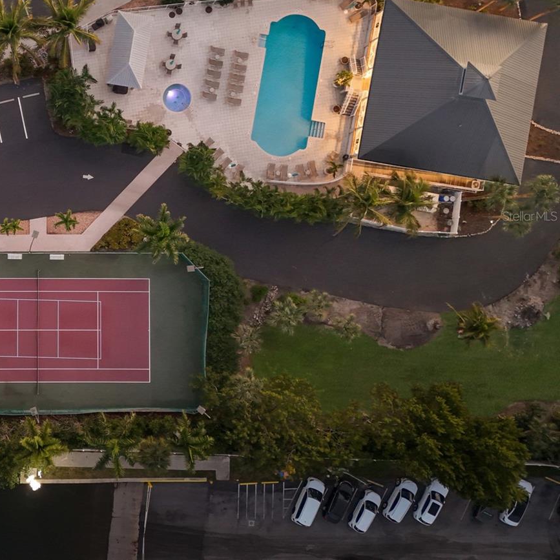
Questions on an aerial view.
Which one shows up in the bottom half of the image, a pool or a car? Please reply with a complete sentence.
The feature located in the bottom half of the image is a car.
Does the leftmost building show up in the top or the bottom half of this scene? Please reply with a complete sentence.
You can find the leftmost building in the top half.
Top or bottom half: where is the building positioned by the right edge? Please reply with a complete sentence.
The building positioned by the right edge is in the top half of the image.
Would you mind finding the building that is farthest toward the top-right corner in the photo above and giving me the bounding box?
[349,0,548,193]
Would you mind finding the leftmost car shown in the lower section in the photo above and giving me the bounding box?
[292,481,325,528]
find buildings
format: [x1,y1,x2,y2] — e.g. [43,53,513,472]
[349,0,548,193]
[107,12,154,90]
